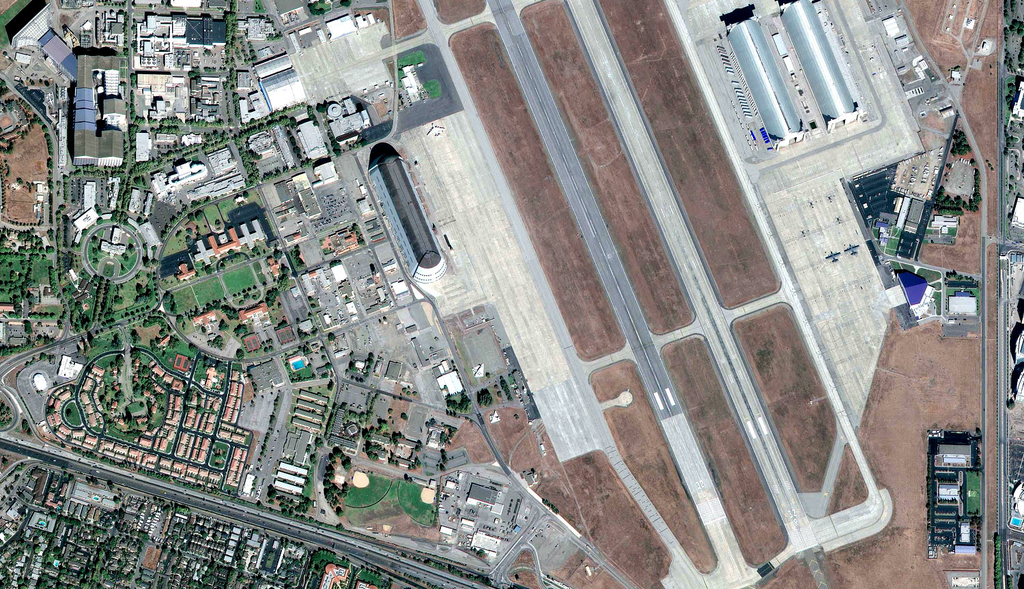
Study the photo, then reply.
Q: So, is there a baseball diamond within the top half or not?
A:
No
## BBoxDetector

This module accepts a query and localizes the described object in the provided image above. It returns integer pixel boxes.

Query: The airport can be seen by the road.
[257,0,925,589]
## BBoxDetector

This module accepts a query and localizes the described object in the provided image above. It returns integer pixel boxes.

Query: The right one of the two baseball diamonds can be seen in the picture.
[398,482,438,525]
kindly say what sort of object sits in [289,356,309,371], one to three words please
swimming pool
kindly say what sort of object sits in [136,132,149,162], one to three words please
building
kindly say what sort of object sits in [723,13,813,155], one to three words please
hangar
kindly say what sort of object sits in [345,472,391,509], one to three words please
baseball field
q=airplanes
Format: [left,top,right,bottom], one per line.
[824,251,841,262]
[428,124,445,138]
[843,244,860,255]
